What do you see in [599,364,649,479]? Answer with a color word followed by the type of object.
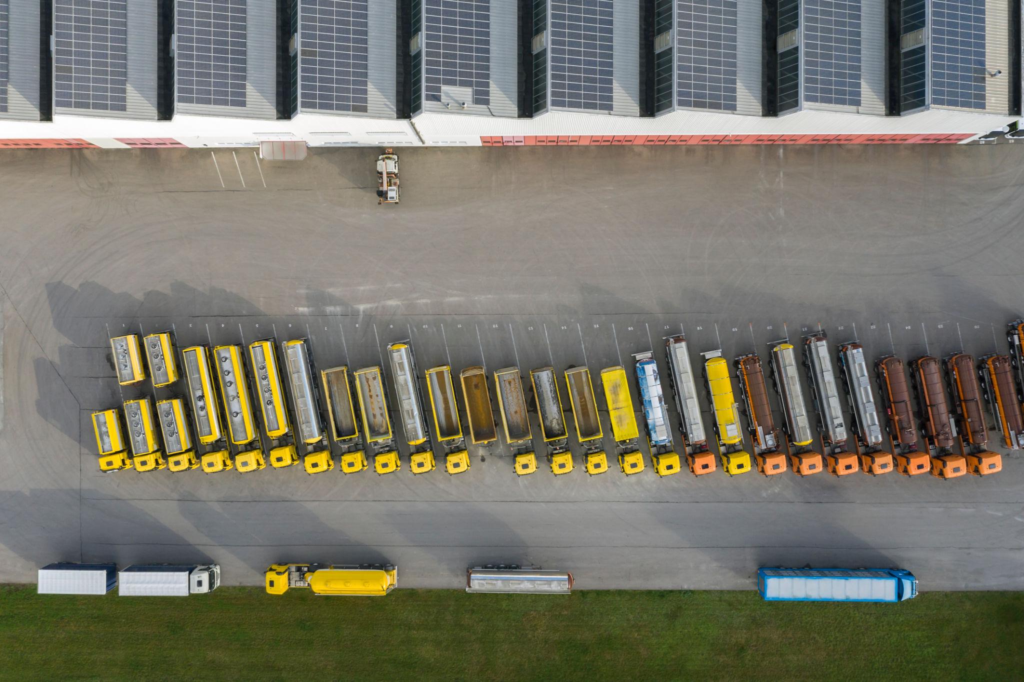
yellow truck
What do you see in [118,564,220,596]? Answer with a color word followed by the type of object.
white truck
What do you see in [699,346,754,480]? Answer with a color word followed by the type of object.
yellow truck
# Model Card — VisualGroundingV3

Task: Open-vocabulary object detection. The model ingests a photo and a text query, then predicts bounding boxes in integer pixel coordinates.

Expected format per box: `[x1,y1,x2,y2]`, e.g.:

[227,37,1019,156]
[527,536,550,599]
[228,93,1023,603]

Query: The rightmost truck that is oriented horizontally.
[758,568,918,602]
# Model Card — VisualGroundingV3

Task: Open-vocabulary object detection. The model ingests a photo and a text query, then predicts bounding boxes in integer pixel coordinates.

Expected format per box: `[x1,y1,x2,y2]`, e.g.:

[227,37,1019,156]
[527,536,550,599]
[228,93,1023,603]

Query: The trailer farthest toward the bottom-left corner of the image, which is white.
[38,562,121,594]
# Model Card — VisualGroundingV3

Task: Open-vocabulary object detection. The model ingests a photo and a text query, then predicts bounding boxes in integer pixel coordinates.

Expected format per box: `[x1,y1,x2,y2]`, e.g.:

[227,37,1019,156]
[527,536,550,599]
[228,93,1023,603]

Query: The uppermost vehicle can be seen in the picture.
[373,148,402,207]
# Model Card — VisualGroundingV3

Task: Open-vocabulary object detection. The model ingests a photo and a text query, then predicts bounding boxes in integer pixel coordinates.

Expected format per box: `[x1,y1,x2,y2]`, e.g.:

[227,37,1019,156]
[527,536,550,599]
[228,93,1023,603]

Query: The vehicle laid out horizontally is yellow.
[261,564,397,596]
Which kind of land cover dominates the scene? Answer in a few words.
paved ground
